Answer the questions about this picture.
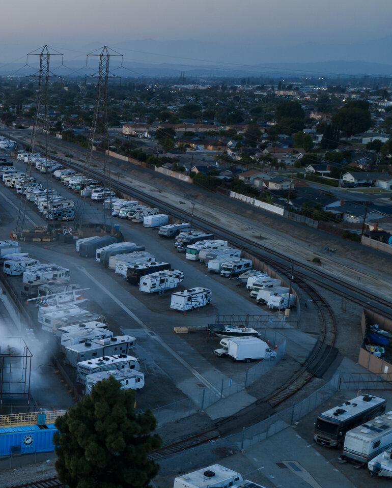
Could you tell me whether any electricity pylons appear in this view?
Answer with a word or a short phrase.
Yes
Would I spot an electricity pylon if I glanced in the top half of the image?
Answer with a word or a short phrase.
Yes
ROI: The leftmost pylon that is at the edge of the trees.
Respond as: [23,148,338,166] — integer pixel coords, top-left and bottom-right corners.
[12,45,66,235]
